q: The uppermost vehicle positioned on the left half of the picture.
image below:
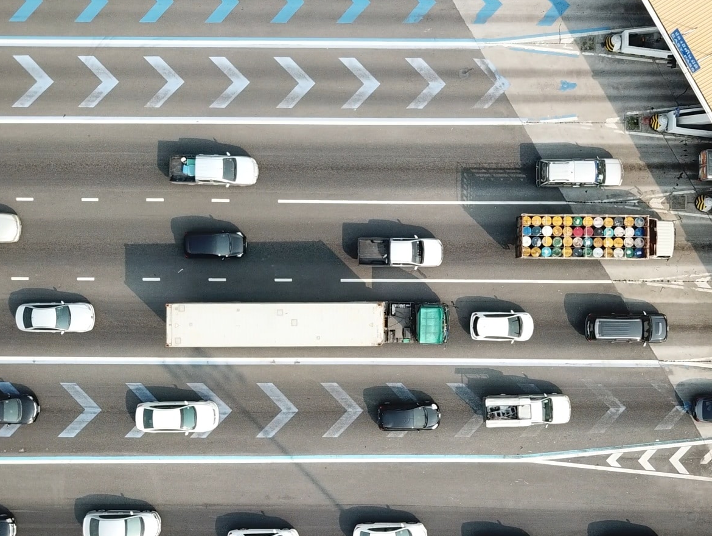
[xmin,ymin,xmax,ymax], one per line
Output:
[168,152,260,188]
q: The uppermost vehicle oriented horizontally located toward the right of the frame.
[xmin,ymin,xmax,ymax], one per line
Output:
[536,153,623,188]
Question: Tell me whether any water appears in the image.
No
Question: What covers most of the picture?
paved ground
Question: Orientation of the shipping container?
from side to side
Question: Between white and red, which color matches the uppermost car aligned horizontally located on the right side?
white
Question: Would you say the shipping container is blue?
No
